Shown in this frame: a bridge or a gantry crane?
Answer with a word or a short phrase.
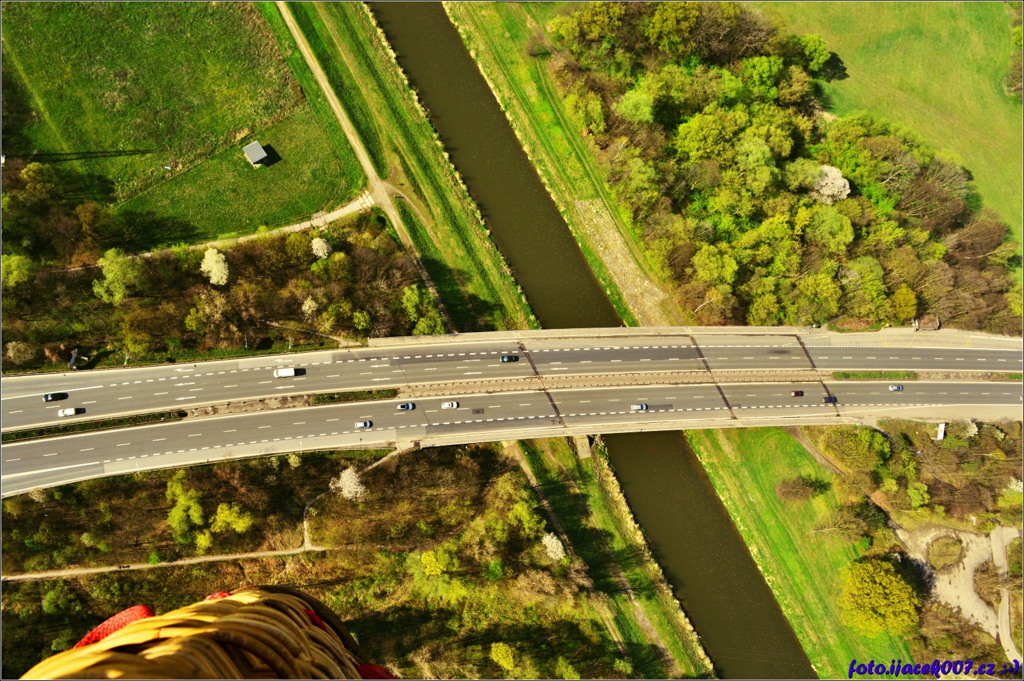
bridge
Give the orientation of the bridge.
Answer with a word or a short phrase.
from side to side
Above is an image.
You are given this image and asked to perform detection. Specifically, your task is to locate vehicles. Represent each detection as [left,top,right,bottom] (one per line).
[501,356,517,364]
[58,408,77,419]
[441,403,457,410]
[822,398,836,404]
[396,404,413,412]
[354,421,370,429]
[791,392,804,398]
[274,367,296,378]
[631,405,646,412]
[44,393,64,403]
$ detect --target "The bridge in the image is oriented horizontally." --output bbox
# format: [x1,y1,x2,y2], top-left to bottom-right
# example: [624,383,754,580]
[366,325,861,459]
